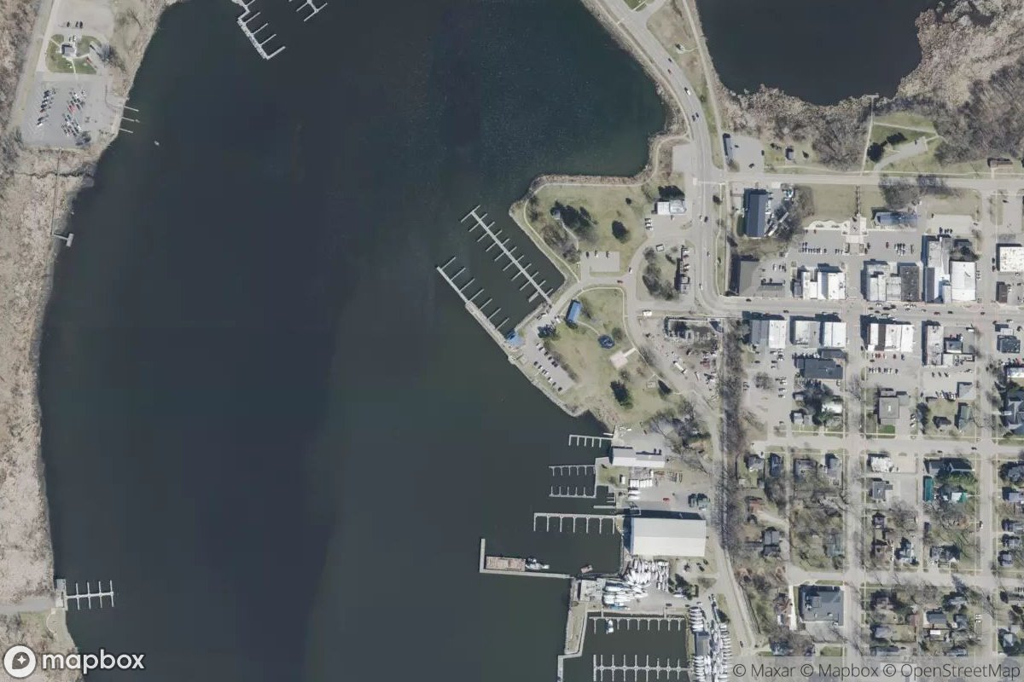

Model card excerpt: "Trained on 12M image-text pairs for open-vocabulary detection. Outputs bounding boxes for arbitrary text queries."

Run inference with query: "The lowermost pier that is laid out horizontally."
[593,655,688,681]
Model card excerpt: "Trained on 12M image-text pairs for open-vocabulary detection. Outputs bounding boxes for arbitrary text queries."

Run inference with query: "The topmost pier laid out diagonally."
[238,0,285,59]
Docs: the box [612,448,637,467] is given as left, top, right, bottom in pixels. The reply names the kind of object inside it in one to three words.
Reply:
shed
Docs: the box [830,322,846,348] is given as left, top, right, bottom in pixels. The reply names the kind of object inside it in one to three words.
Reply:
building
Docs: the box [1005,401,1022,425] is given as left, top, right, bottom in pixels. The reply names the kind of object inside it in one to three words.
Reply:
house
